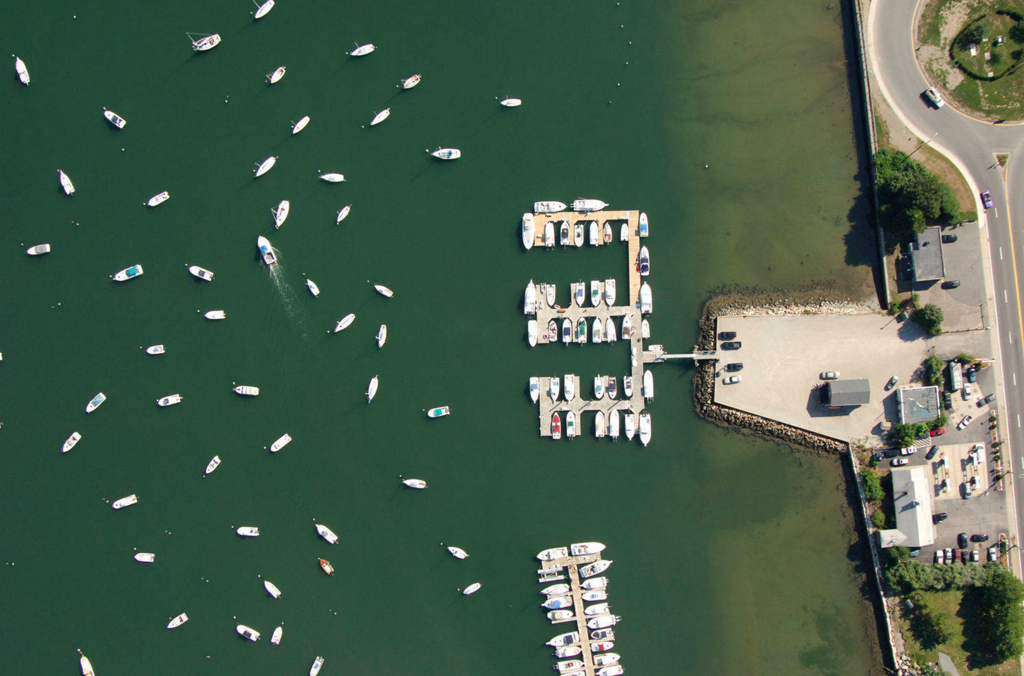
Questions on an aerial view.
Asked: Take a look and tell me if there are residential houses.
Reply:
Yes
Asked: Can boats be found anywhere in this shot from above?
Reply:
Yes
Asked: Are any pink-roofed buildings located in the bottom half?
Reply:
No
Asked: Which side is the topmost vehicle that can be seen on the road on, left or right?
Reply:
right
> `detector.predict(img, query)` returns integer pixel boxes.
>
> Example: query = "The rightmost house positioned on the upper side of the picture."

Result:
[907,226,945,284]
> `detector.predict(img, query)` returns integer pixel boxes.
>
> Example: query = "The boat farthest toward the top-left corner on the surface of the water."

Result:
[15,54,30,85]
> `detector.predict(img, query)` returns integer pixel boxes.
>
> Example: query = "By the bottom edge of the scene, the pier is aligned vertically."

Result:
[542,552,619,676]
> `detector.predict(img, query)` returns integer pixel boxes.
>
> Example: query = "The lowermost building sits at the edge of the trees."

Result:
[878,468,934,548]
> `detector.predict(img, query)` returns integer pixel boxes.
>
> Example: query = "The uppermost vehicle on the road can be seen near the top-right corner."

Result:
[926,86,946,108]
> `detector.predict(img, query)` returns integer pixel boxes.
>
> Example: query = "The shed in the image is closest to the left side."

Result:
[819,378,871,408]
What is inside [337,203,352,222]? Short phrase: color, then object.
white boat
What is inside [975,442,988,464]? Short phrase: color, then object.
white vehicle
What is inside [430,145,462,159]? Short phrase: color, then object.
white boat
